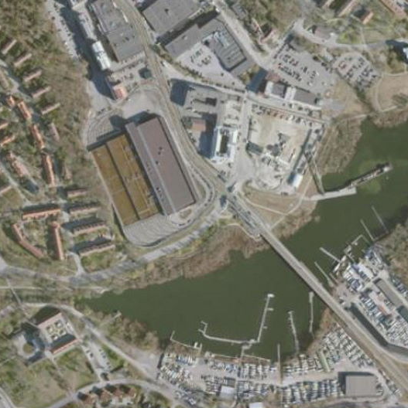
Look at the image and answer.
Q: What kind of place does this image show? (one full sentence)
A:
The picture captures a port.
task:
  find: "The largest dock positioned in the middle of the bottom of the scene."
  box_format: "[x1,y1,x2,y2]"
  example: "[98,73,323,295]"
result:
[197,294,273,364]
